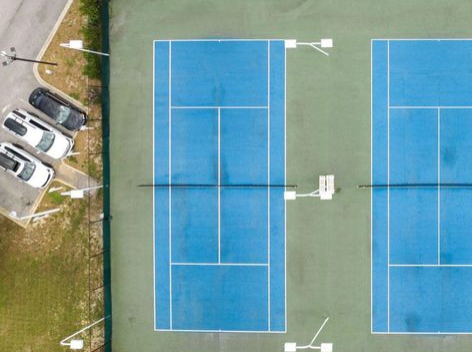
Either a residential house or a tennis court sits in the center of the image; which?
tennis court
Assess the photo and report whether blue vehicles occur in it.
No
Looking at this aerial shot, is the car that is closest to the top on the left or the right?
left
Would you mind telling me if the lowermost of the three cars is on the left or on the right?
left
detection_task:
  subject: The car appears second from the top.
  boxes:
[4,112,70,157]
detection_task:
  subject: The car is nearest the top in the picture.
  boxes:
[29,87,89,130]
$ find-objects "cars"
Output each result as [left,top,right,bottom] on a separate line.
[29,87,89,130]
[4,112,70,157]
[0,139,55,184]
